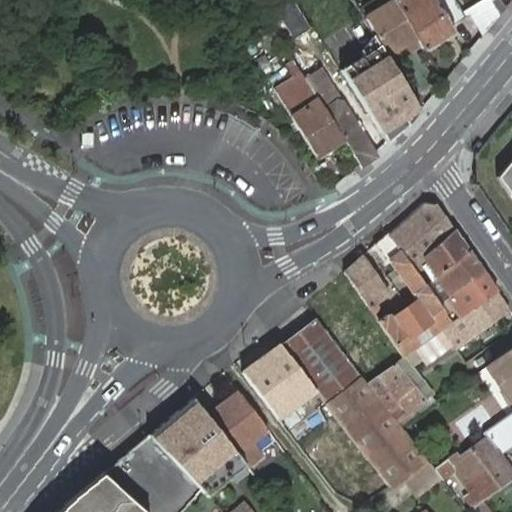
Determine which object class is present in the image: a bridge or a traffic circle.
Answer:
traffic circle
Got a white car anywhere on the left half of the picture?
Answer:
Yes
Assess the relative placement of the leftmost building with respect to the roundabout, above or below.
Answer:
below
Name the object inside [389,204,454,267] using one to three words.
house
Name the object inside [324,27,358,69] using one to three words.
shed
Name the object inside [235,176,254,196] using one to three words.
car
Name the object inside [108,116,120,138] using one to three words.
vehicle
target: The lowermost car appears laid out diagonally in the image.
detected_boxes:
[52,434,72,456]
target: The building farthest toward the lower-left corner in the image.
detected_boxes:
[64,474,145,512]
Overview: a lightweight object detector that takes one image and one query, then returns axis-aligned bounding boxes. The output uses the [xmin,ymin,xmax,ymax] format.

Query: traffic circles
[78,187,260,368]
